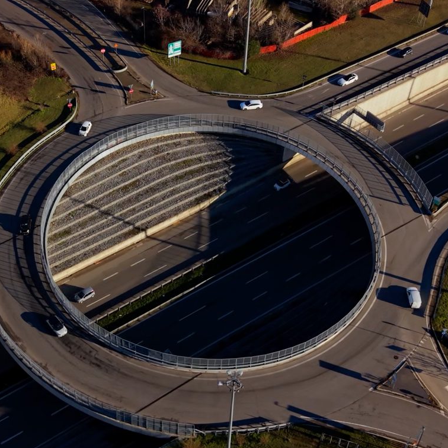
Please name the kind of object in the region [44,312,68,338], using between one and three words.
car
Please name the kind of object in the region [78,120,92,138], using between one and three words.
car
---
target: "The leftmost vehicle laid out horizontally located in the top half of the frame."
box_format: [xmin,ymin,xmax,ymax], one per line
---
[239,99,263,111]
